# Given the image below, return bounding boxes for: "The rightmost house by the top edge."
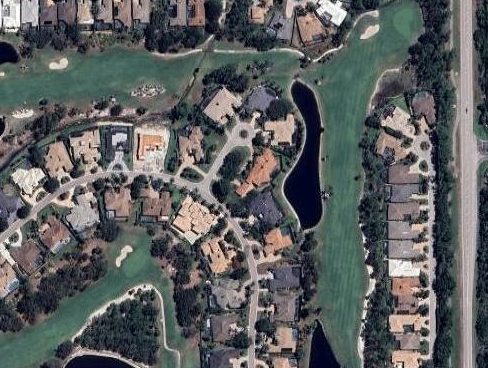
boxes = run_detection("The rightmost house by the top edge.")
[317,0,347,26]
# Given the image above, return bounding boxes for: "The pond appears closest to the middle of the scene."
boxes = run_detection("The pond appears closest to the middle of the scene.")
[284,81,322,229]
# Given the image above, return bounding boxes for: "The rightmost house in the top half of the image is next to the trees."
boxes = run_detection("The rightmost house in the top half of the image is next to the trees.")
[413,92,437,122]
